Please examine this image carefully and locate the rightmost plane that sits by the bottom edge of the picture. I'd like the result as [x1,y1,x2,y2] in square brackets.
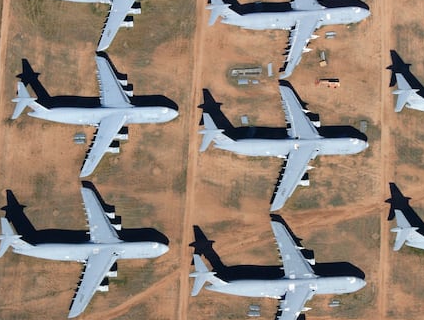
[189,223,367,320]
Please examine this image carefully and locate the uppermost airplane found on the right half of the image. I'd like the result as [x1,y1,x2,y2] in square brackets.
[206,0,370,79]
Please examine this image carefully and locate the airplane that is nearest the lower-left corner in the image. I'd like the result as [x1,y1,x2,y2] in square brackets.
[0,188,170,318]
